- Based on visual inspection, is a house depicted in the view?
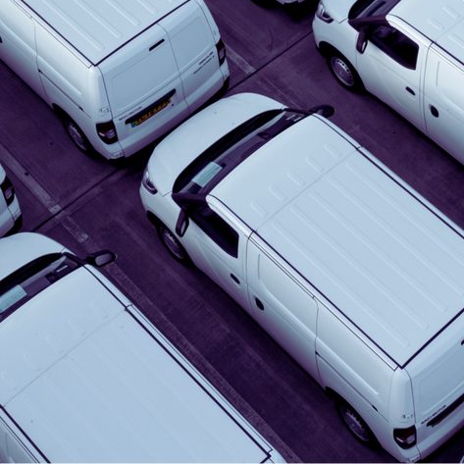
No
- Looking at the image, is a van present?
Yes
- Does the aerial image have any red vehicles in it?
No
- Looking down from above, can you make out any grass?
No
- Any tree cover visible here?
No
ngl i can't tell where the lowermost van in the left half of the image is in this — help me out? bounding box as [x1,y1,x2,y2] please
[0,234,286,464]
